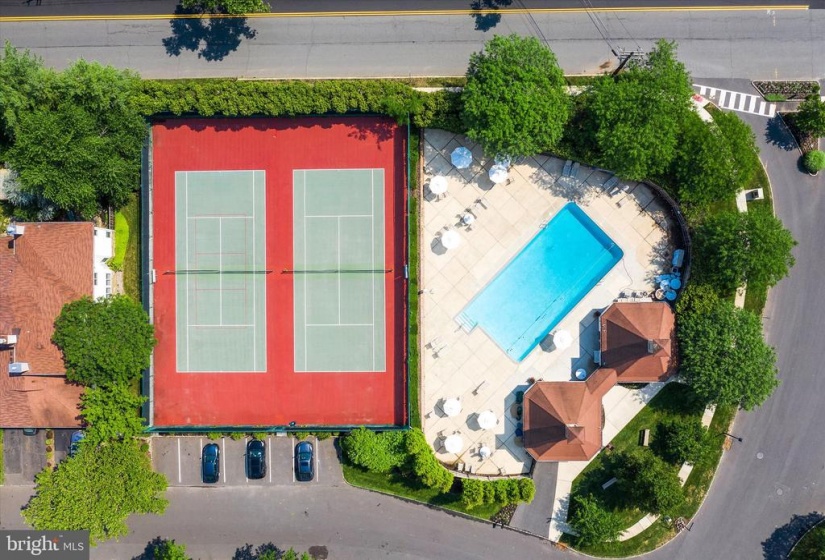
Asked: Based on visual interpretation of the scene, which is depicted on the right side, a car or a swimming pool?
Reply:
swimming pool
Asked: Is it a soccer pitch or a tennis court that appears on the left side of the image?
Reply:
tennis court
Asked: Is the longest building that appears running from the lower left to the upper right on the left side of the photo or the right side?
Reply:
right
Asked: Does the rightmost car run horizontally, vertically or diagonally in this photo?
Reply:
vertically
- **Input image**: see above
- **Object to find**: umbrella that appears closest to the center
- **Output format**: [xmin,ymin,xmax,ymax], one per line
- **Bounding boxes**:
[442,230,459,248]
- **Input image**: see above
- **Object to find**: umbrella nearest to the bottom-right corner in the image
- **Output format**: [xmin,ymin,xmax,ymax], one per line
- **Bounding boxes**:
[553,330,572,349]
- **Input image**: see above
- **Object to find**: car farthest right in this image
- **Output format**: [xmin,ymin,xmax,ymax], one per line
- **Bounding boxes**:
[293,441,313,481]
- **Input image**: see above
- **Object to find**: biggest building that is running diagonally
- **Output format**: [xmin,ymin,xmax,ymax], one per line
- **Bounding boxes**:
[523,301,677,462]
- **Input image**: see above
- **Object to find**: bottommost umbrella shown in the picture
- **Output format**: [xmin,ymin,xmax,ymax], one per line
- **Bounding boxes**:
[445,434,463,452]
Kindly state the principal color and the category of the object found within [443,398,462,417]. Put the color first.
white umbrella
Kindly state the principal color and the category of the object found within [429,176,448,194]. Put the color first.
white umbrella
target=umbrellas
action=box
[553,330,572,349]
[489,164,508,183]
[451,147,471,168]
[429,176,448,194]
[443,398,462,417]
[442,230,459,248]
[445,434,463,452]
[477,409,497,429]
[495,152,512,168]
